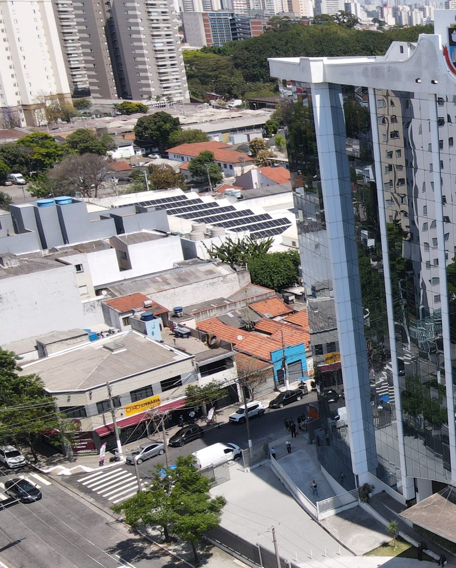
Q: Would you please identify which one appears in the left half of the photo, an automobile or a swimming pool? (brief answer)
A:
automobile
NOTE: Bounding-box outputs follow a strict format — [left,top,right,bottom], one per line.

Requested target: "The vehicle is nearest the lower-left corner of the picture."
[5,477,42,502]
